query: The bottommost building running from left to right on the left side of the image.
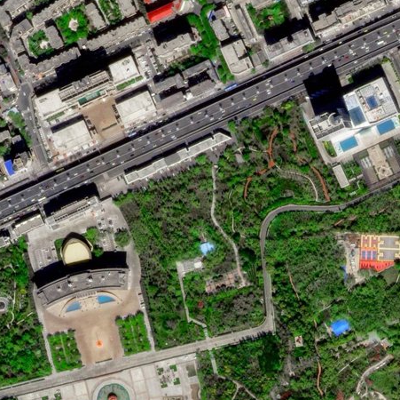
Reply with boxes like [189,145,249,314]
[37,269,133,308]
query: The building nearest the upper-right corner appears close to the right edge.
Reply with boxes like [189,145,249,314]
[334,0,388,23]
